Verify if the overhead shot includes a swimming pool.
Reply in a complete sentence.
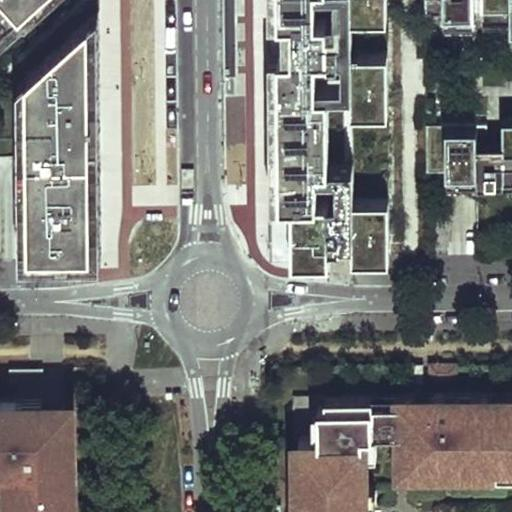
No, this view has no swimming pool in it.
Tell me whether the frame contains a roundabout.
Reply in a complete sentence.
Yes, you can see a roundabout in this photo.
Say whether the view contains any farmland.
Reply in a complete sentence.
No, no farmland is visible.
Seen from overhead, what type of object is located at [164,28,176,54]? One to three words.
vehicle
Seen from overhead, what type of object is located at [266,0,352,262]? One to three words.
building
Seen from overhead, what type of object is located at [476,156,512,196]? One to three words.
house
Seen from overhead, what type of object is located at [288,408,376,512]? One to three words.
house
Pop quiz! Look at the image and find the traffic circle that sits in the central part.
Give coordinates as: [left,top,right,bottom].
[142,226,281,364]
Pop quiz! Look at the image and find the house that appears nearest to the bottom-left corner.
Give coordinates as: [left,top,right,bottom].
[0,400,77,512]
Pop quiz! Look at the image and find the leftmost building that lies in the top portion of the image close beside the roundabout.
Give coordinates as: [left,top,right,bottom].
[15,32,101,280]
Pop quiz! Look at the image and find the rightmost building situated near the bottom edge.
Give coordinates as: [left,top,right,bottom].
[392,405,512,490]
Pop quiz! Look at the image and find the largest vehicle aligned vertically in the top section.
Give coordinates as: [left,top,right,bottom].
[181,169,194,206]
